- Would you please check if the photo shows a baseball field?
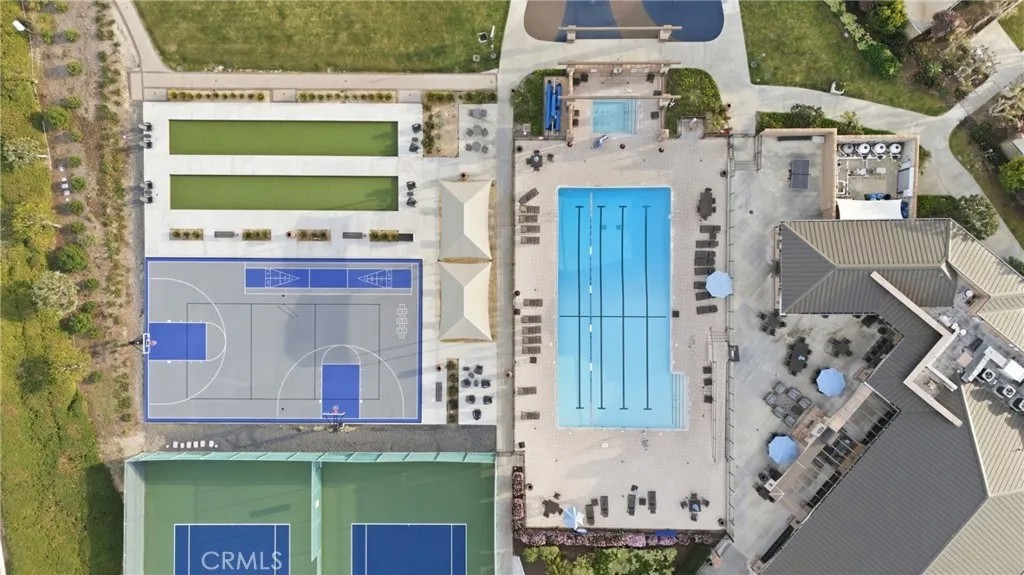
No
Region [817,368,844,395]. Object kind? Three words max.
umbrella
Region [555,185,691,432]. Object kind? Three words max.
swimming pool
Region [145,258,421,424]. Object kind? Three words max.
basketball court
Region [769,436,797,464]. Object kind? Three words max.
umbrella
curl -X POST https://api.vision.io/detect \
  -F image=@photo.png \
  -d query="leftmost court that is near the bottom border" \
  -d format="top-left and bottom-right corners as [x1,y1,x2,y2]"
[144,453,319,575]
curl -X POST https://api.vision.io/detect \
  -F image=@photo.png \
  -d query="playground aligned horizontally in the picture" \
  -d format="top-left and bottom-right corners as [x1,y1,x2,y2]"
[524,0,724,41]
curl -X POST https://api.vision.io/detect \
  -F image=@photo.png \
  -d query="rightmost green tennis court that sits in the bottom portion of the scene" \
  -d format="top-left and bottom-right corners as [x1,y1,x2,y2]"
[319,462,493,575]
